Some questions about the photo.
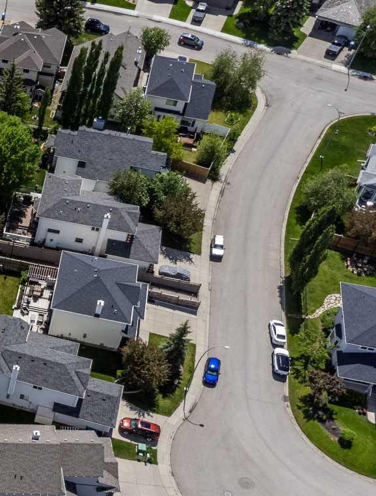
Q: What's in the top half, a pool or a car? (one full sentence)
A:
Looking in the top half, you will find a car.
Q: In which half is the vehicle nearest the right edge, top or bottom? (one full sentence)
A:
The top half of the photo is where the vehicle nearest the right edge is.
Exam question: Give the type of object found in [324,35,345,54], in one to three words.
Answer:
vehicle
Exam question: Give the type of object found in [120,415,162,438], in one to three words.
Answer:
car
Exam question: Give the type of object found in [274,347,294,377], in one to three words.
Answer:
car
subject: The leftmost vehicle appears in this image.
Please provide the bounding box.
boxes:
[84,15,111,32]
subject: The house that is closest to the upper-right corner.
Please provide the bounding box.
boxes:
[312,0,367,39]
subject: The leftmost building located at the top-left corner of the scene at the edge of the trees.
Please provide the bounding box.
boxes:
[0,14,67,94]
